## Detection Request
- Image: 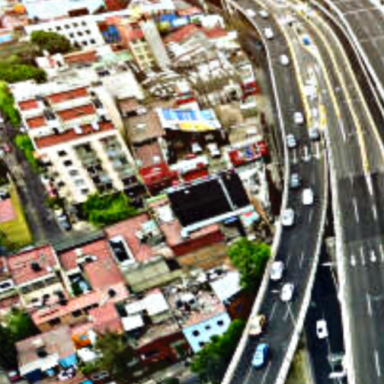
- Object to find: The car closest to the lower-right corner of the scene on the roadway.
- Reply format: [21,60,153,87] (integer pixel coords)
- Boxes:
[314,319,329,341]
